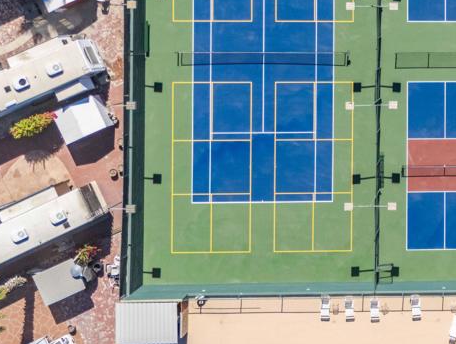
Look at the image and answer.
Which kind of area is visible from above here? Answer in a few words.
sports ground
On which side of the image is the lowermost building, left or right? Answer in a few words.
left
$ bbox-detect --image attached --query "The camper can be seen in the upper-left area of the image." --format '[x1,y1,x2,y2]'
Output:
[0,30,118,129]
